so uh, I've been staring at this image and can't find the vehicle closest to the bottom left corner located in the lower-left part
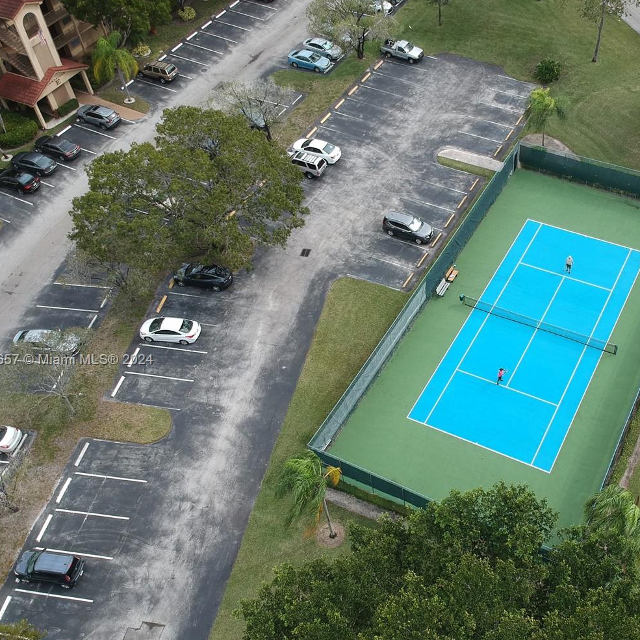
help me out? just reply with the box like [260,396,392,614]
[12,548,89,589]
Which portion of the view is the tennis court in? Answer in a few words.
right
